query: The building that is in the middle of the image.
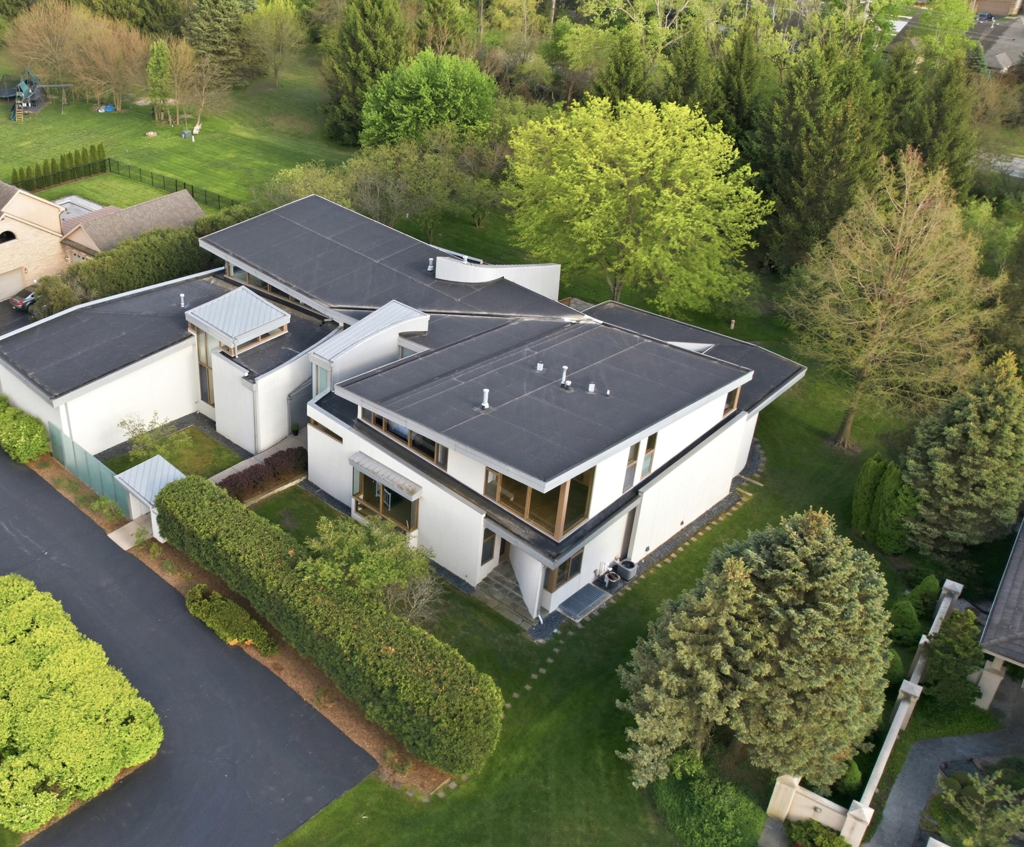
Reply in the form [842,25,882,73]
[0,194,809,629]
